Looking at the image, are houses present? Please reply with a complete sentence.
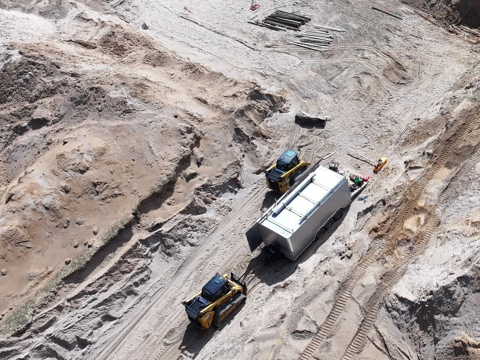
No, there's no house here.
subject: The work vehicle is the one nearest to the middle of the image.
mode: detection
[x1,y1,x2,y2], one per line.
[253,148,304,192]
